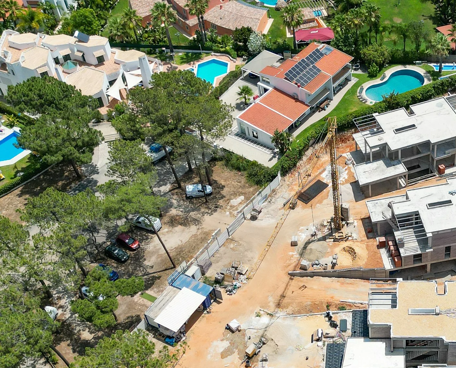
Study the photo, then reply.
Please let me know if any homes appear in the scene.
Yes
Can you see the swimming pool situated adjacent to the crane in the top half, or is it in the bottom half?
top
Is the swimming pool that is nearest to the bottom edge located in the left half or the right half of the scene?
left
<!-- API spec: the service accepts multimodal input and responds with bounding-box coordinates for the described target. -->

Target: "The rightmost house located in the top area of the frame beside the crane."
[348,95,456,199]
